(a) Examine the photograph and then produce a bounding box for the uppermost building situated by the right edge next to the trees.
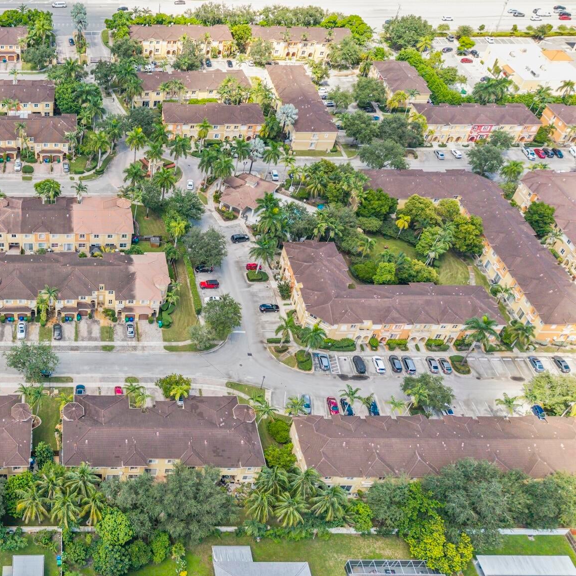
[483,44,576,97]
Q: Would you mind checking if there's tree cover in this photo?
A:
Yes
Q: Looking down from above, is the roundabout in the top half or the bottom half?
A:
top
